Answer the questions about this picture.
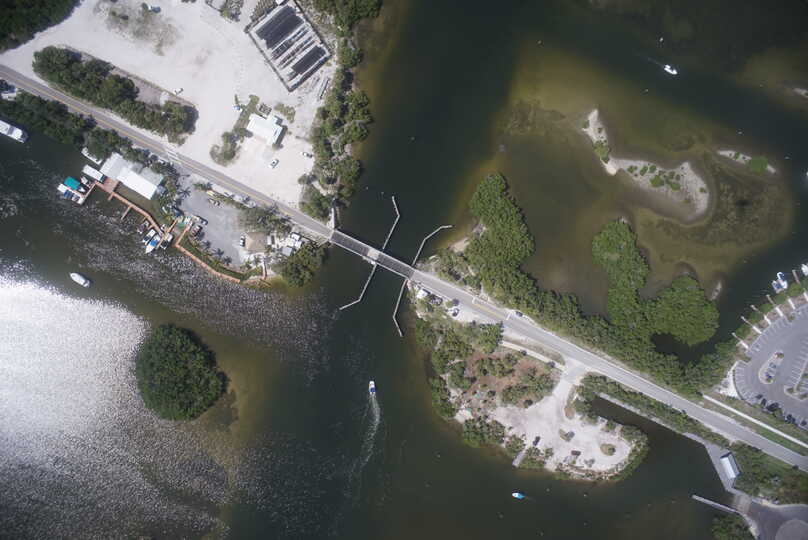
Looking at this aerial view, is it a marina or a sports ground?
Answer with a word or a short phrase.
marina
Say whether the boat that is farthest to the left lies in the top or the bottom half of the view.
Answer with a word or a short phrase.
top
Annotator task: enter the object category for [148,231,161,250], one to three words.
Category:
boat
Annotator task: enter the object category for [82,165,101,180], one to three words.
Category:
boat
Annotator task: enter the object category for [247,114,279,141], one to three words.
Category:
house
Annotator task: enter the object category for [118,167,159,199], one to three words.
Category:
building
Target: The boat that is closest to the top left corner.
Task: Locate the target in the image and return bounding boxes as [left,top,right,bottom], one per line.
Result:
[0,118,26,141]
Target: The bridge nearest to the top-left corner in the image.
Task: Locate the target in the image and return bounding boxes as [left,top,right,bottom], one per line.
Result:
[329,227,415,282]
